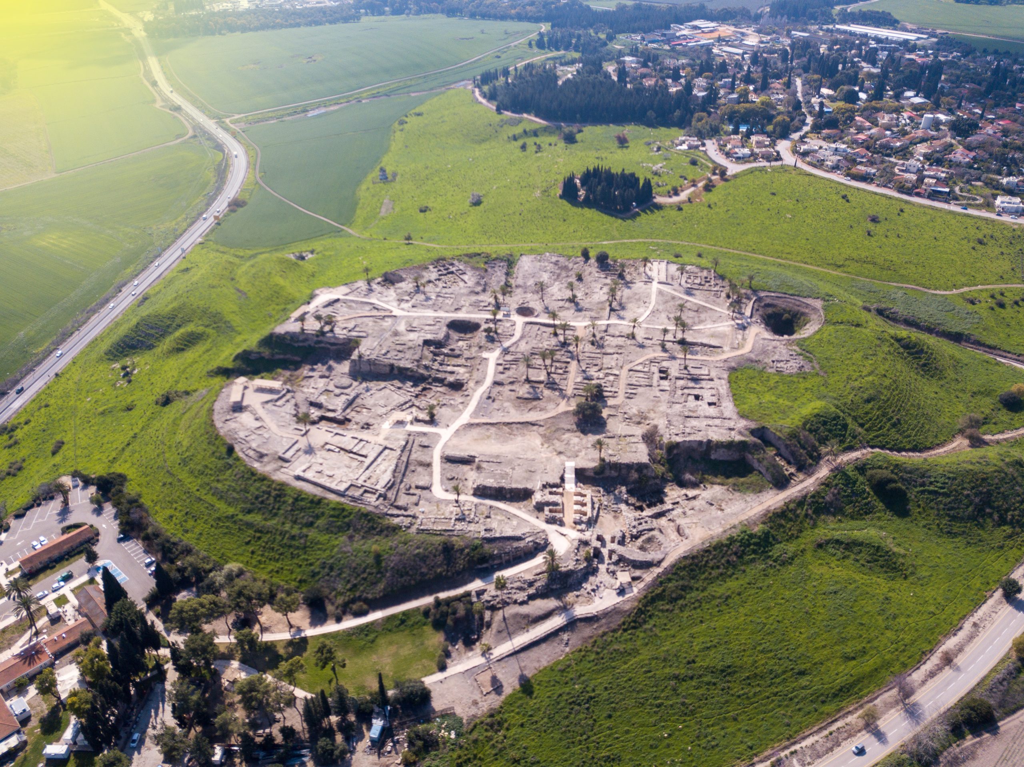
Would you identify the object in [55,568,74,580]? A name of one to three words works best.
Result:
vehicle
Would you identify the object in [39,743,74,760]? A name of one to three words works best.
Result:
building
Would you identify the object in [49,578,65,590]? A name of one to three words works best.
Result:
vehicle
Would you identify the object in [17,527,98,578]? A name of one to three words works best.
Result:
shed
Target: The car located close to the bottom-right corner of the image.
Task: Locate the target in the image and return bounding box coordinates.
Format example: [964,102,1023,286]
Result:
[851,741,868,755]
